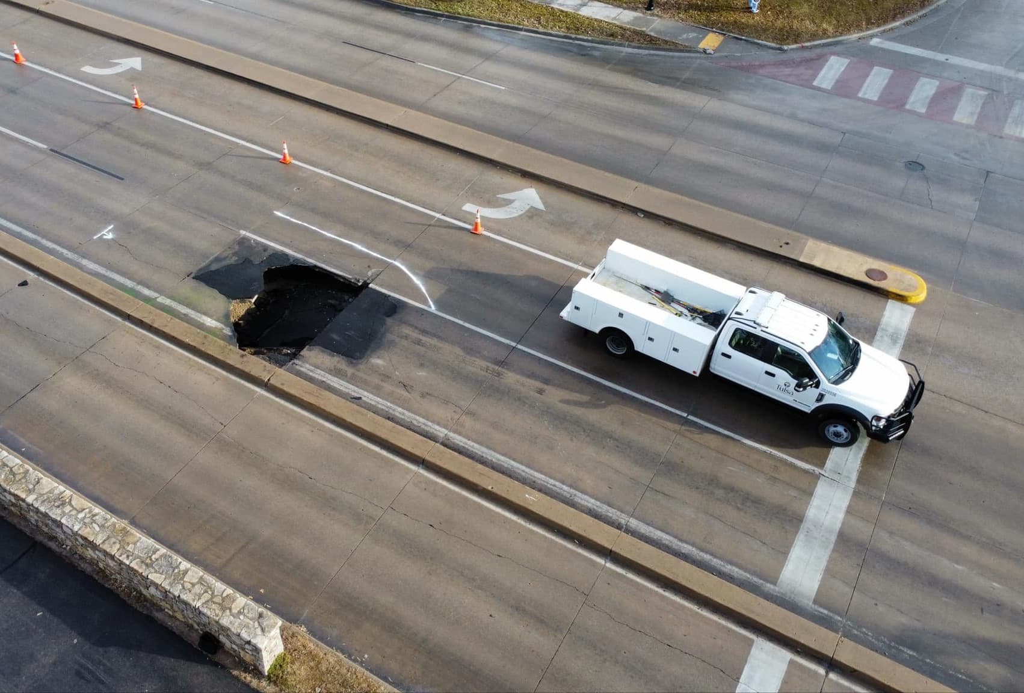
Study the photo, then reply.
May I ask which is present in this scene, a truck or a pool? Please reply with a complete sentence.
Visible in the photo is a truck.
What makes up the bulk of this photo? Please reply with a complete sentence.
Most of the picture is covered by paved ground.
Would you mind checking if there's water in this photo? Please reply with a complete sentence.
No, the picture contains no water.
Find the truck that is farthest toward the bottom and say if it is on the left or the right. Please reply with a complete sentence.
You can find the truck that is farthest toward the bottom on the right side of the picture.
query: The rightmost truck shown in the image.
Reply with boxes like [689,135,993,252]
[558,238,926,444]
